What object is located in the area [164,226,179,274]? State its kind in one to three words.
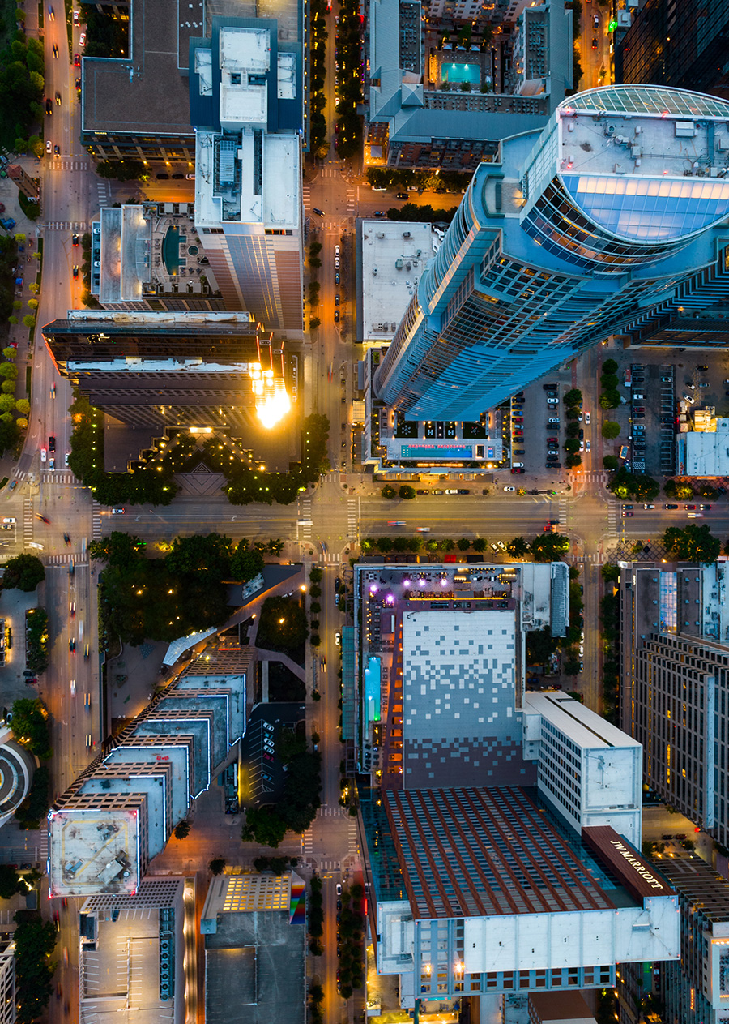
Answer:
swimming pool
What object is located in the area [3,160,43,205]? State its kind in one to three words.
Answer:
building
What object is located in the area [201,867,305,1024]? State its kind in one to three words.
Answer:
building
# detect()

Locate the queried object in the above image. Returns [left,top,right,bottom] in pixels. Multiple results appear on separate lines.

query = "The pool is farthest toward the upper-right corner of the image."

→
[441,64,480,83]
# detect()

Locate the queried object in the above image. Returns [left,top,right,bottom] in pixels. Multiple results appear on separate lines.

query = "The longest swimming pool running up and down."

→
[366,657,380,739]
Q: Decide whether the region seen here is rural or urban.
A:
urban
